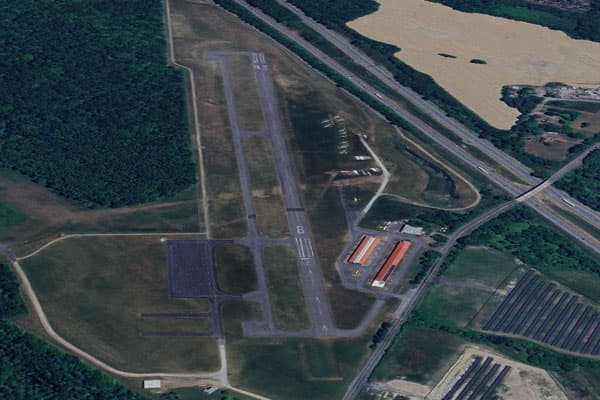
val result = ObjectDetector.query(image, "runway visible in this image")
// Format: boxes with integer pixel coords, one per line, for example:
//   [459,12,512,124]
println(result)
[251,53,334,333]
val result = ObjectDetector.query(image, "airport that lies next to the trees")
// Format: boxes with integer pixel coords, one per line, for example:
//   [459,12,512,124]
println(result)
[139,52,435,340]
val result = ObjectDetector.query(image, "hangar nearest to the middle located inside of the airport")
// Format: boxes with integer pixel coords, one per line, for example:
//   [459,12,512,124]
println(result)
[349,235,379,268]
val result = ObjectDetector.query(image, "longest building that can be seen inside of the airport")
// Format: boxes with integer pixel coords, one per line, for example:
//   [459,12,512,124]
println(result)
[373,240,411,291]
